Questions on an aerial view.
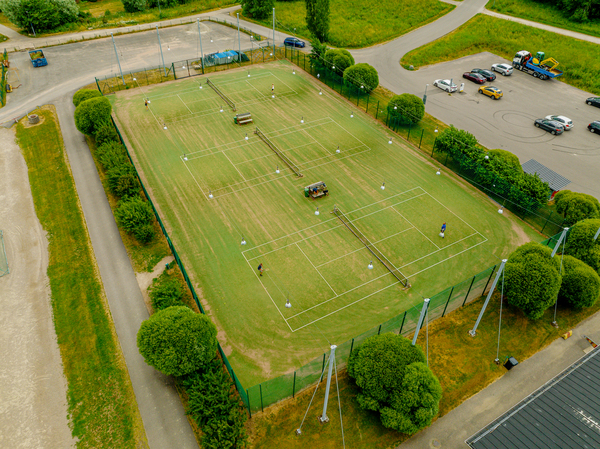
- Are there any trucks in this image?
Yes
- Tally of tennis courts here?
three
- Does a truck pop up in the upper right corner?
Yes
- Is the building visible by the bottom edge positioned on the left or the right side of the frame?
right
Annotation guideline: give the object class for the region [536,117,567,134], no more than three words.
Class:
car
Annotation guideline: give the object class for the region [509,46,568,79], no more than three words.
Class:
truck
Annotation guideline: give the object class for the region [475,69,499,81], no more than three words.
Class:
vehicle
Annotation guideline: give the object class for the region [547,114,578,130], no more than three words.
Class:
car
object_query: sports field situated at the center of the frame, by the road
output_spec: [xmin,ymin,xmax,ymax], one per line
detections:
[104,58,557,412]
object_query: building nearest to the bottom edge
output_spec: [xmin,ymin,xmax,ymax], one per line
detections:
[463,346,600,449]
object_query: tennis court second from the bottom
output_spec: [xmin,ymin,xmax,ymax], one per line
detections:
[177,115,374,202]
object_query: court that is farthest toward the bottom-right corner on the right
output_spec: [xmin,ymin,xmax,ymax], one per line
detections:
[237,184,493,336]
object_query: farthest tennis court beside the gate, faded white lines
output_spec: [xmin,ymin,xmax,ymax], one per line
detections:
[139,71,301,128]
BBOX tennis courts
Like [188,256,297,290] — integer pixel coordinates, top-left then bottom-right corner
[177,115,374,202]
[139,71,301,128]
[237,184,493,336]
